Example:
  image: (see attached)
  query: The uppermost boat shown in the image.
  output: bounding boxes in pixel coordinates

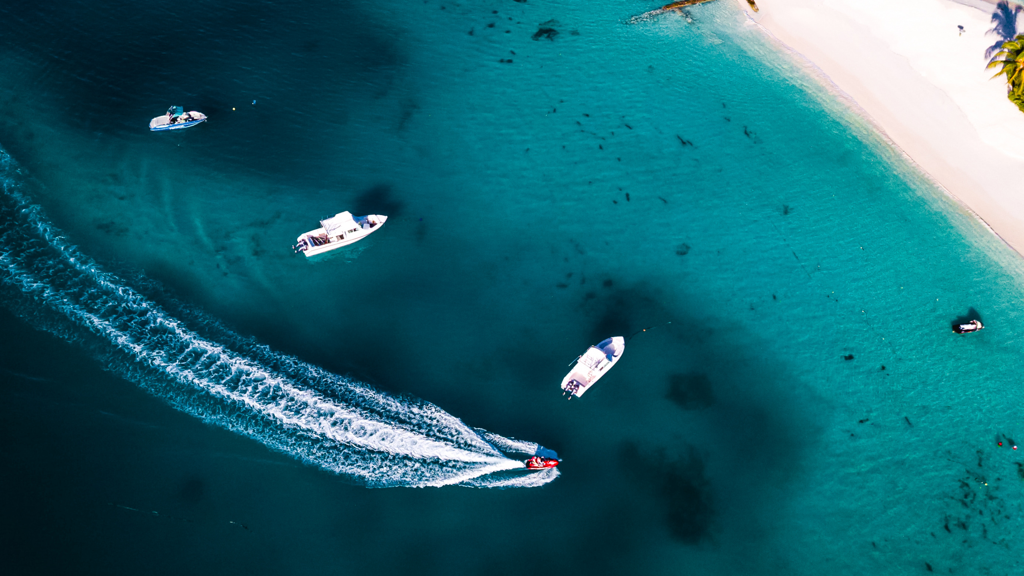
[146,104,208,132]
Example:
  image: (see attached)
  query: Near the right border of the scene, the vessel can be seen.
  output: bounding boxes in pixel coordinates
[951,319,984,333]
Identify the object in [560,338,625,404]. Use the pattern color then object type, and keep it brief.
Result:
white boat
